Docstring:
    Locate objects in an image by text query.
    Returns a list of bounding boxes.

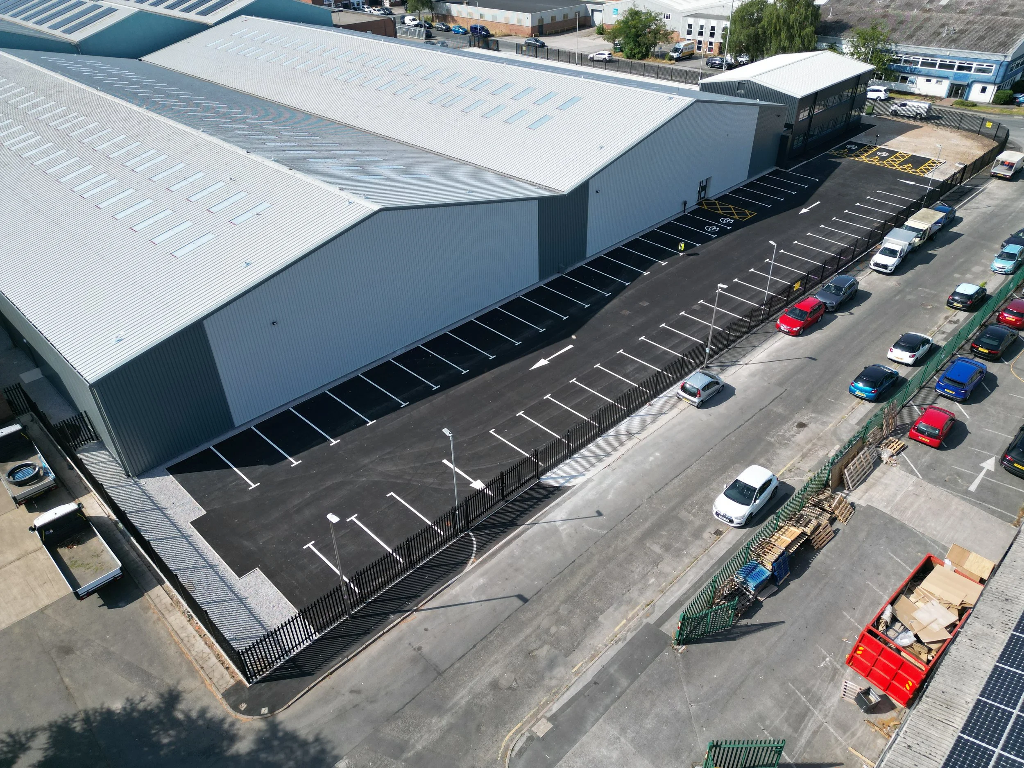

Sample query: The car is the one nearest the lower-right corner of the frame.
[991,423,1024,482]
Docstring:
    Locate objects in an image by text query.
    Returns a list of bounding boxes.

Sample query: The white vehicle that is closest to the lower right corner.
[713,462,783,527]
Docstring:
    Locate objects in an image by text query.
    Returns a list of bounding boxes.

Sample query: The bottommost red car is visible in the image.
[911,404,962,449]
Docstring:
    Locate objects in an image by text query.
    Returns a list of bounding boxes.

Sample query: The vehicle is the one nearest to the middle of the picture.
[675,370,726,410]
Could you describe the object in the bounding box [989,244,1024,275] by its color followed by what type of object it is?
blue car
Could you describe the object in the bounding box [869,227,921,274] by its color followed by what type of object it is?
white truck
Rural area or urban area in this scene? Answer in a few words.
urban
